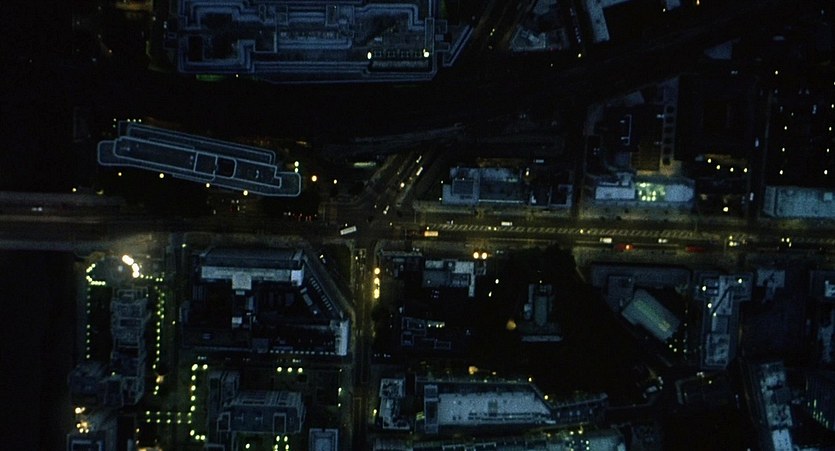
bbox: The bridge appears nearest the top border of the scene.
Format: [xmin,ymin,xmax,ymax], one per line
[0,0,835,126]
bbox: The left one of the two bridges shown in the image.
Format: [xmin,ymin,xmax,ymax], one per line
[0,190,86,248]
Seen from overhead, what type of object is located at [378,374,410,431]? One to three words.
building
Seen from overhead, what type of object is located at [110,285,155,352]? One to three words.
building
